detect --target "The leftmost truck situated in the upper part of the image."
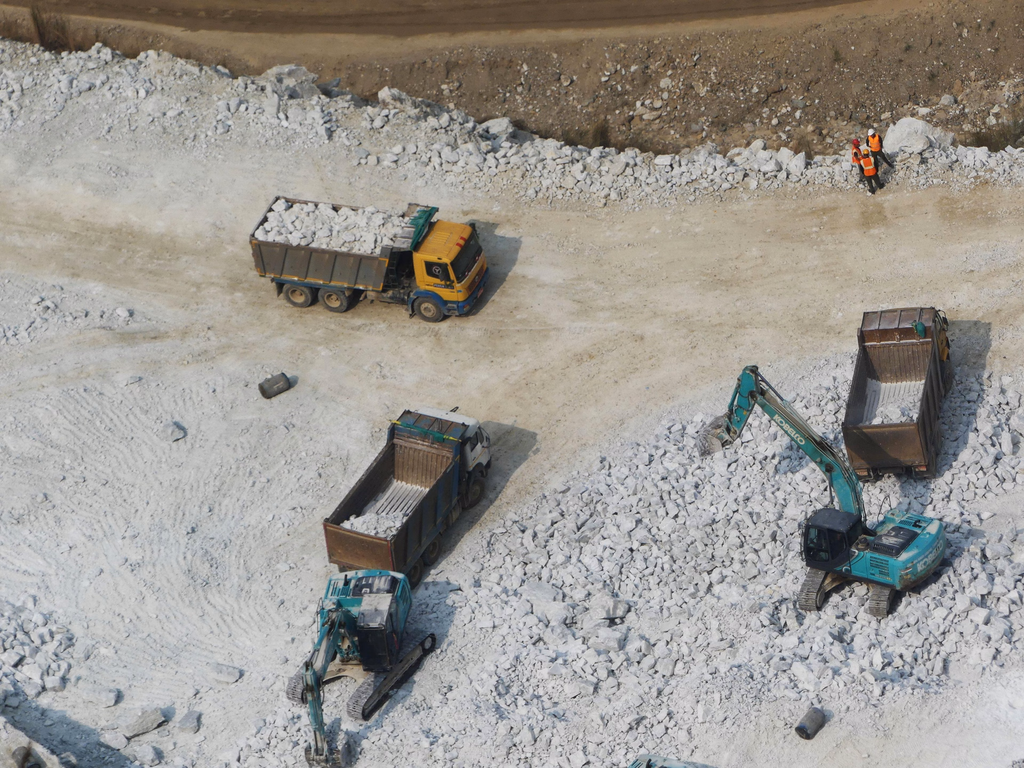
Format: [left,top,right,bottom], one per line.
[249,195,491,325]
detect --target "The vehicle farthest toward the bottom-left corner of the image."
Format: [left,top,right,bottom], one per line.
[282,581,438,768]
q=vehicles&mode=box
[624,756,705,768]
[282,581,438,768]
[249,195,491,325]
[317,405,498,588]
[839,304,956,486]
